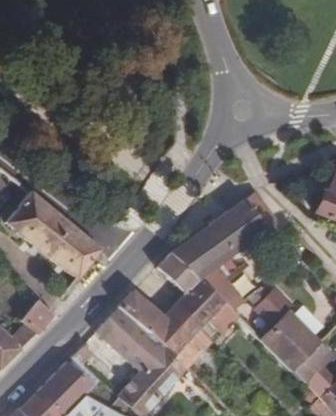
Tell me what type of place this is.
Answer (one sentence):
The area seen from above is a residential area.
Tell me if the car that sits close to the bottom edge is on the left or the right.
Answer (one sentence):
It is on the left.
